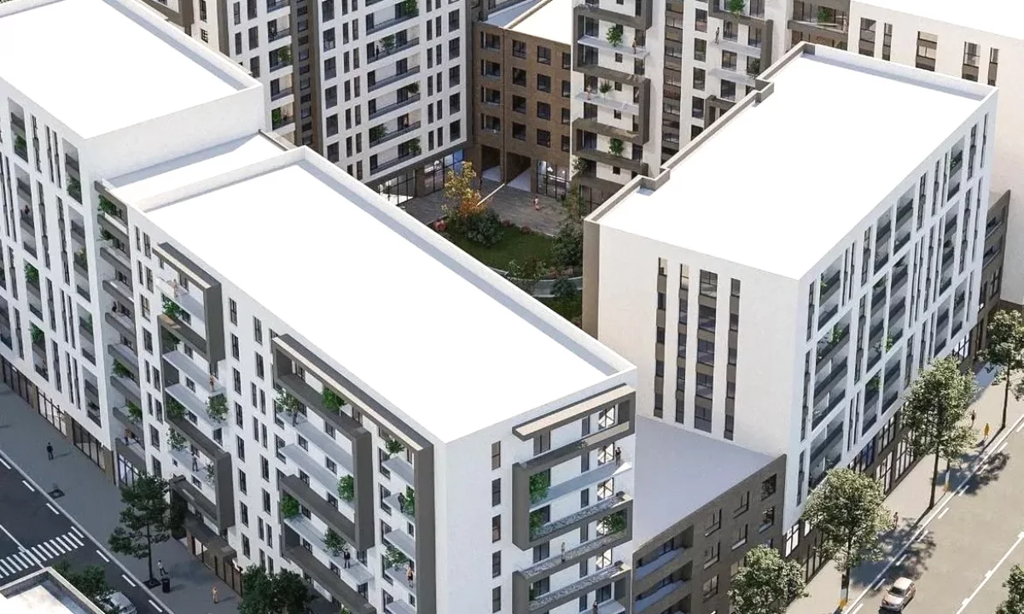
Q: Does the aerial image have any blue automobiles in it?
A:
No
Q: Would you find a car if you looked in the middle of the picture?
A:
No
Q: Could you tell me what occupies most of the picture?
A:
buildings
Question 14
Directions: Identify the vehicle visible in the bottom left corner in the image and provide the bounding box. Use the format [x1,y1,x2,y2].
[105,589,145,614]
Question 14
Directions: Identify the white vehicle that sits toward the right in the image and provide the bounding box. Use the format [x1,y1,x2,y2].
[883,577,916,612]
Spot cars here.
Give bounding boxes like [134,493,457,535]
[105,589,145,614]
[883,577,916,612]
